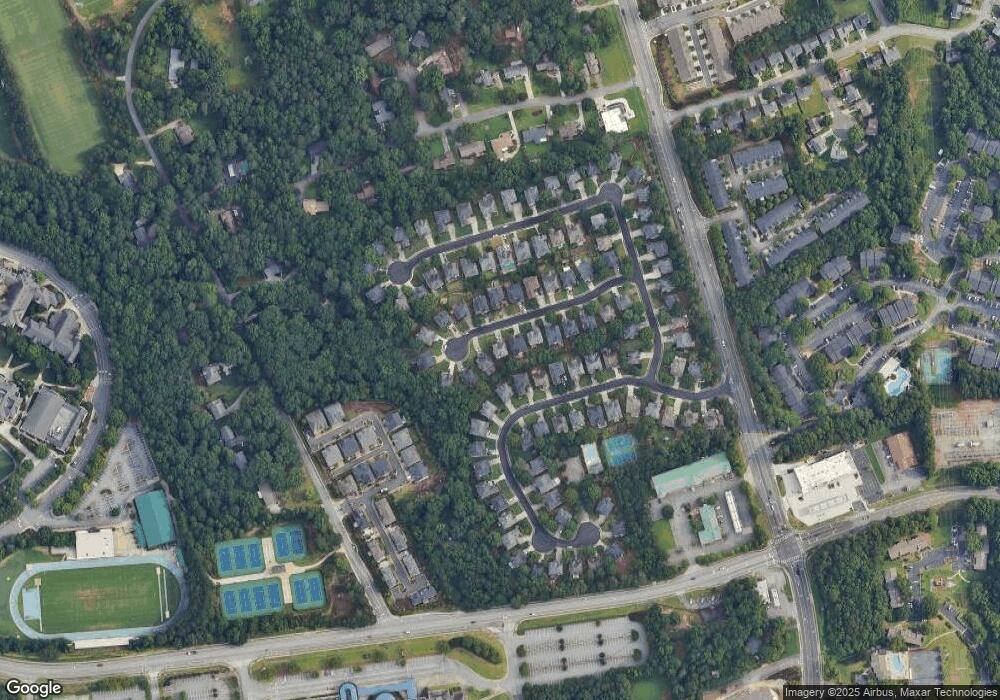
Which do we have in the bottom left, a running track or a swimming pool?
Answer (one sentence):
What appears in the bottom left is a running track.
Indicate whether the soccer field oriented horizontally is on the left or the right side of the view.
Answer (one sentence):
The soccer field oriented horizontally is on the left side of the image.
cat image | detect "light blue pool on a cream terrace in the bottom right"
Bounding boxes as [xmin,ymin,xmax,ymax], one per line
[880,650,910,679]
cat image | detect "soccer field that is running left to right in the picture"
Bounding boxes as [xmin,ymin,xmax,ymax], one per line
[21,564,179,632]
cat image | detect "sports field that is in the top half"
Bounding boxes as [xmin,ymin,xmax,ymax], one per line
[0,0,104,169]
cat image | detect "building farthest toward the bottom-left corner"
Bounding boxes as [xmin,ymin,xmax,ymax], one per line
[75,528,114,559]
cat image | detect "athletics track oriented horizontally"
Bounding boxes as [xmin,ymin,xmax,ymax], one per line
[10,552,188,641]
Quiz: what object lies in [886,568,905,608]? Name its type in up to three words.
building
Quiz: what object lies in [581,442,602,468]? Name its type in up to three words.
swimming pool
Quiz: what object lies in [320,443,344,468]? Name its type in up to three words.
house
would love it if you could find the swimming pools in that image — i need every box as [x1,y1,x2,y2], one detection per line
[885,362,911,397]
[581,442,602,468]
[502,260,517,272]
[880,650,910,679]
